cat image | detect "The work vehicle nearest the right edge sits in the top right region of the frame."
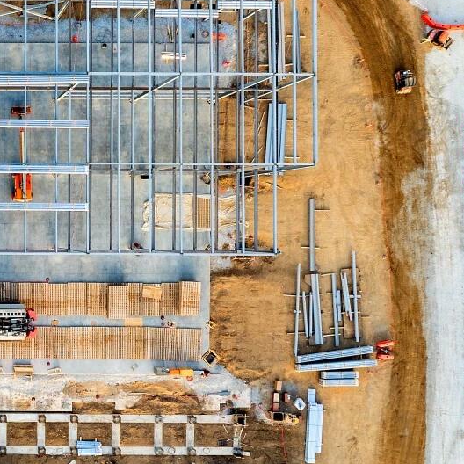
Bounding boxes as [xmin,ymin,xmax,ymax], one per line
[430,24,459,54]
